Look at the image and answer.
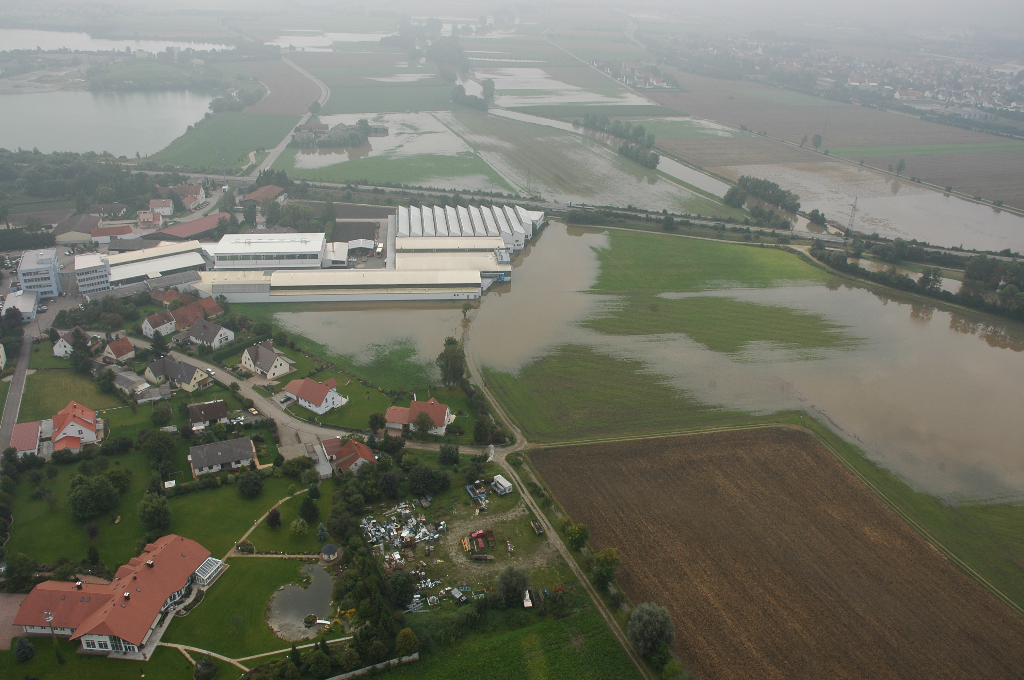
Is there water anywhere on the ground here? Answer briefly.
Yes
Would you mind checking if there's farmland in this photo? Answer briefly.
Yes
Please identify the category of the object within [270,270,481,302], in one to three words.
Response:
building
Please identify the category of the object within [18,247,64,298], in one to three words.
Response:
building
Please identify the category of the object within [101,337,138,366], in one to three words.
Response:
house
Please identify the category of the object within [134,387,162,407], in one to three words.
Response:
shed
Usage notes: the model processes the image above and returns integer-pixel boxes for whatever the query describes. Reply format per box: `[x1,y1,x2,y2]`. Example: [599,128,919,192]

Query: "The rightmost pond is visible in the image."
[267,561,333,639]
